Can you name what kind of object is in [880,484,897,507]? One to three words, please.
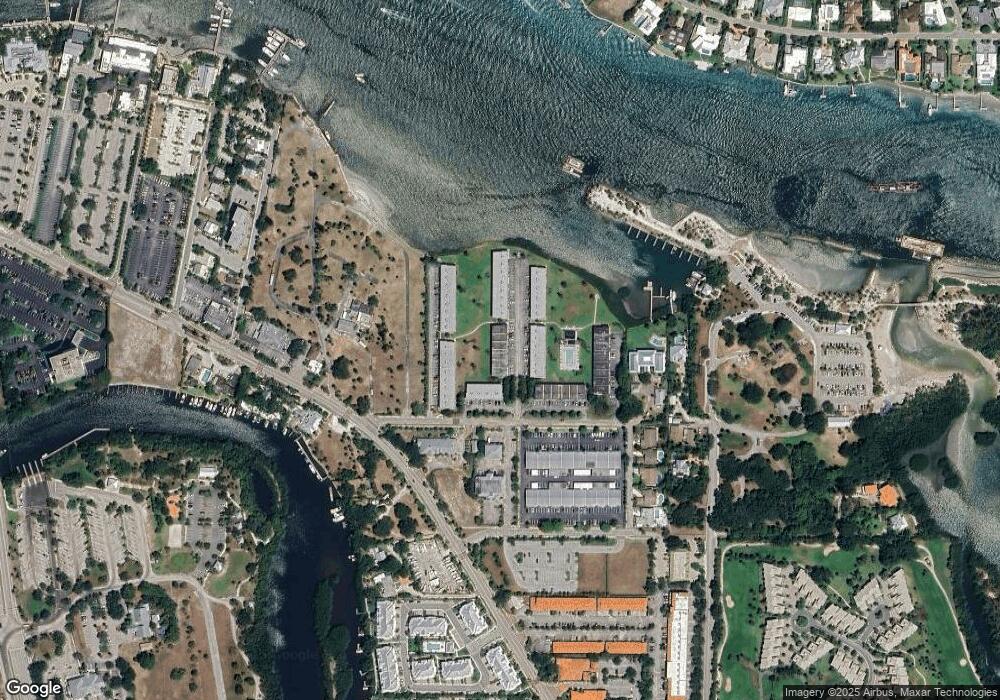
house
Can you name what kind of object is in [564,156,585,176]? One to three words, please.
ship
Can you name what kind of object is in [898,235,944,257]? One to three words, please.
ship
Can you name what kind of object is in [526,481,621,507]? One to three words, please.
building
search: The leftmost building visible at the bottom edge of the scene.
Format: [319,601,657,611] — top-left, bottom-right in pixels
[66,677,104,699]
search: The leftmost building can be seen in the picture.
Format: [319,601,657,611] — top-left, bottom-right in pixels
[3,37,47,71]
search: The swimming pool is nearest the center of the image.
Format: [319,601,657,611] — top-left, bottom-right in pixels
[561,345,579,370]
